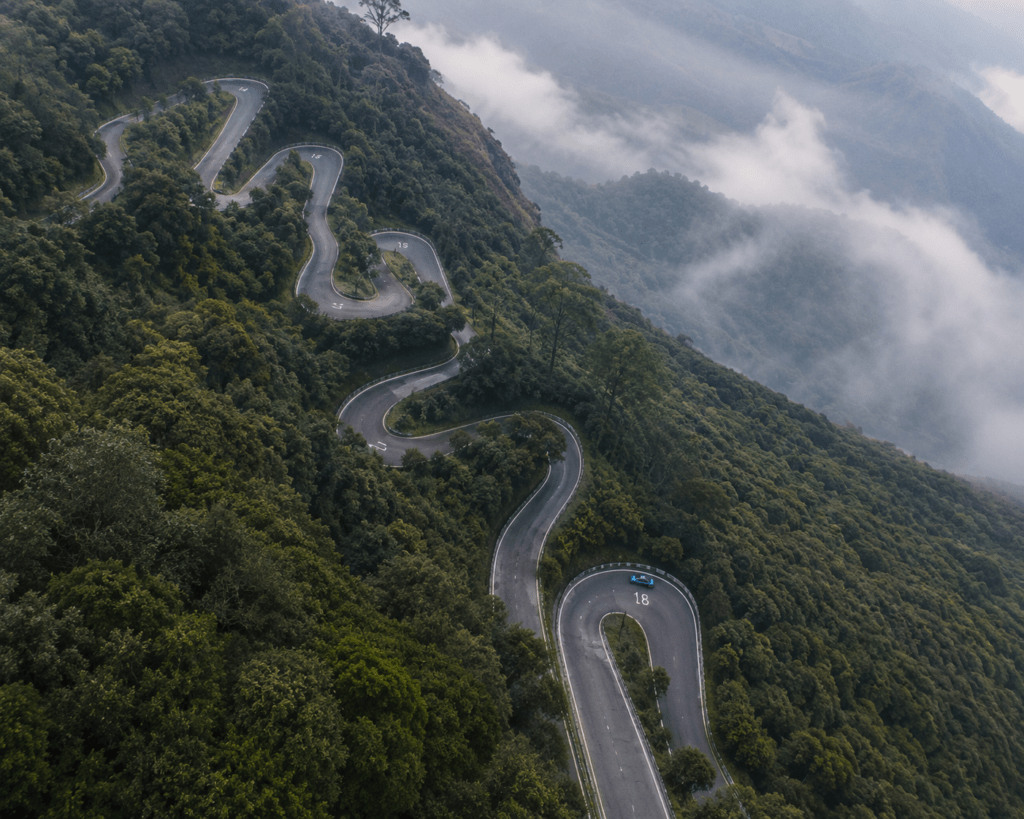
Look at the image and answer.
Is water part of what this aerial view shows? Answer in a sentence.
No, no water is visible.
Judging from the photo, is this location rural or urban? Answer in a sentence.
This place is rural.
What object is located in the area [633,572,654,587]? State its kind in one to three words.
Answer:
car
